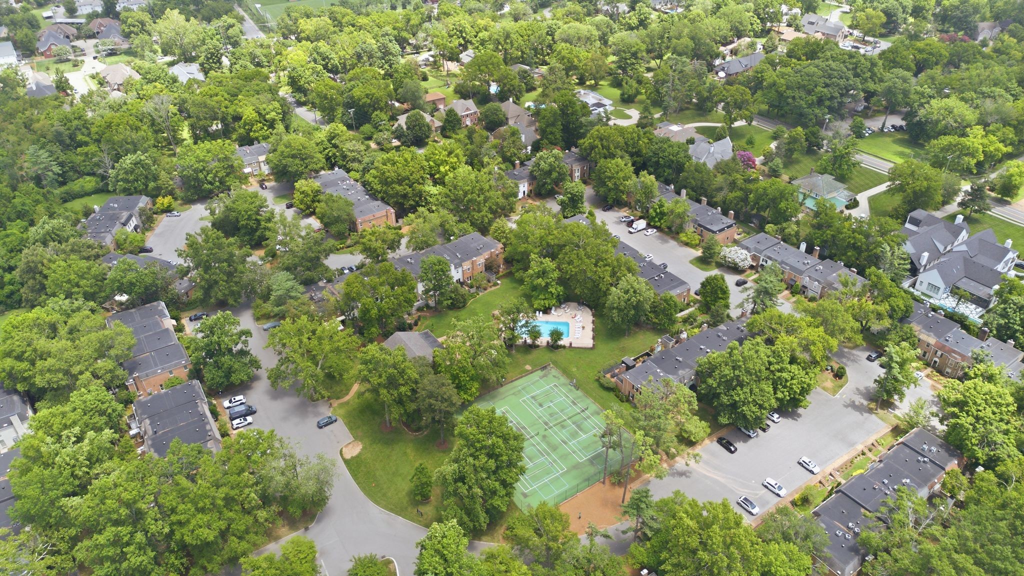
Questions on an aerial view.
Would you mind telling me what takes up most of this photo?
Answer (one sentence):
The bulk of the photo consists of trees.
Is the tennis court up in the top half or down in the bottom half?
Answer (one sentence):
It is in the bottom half that the tennis court appears.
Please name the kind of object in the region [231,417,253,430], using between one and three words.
vehicle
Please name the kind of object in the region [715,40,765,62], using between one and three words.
house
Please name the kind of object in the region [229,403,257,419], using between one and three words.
vehicle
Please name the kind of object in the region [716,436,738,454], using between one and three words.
car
